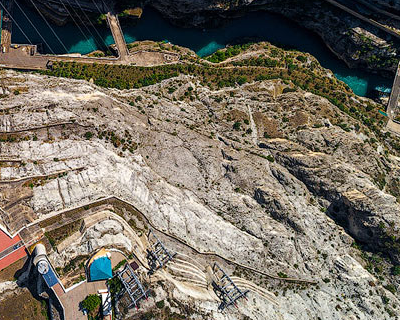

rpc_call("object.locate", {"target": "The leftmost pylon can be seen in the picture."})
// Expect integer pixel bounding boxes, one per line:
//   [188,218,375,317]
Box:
[120,266,152,311]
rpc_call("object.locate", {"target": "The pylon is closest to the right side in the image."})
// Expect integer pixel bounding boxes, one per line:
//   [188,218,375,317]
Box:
[208,263,251,309]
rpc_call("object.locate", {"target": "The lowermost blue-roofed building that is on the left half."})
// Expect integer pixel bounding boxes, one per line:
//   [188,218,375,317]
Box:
[88,250,112,280]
